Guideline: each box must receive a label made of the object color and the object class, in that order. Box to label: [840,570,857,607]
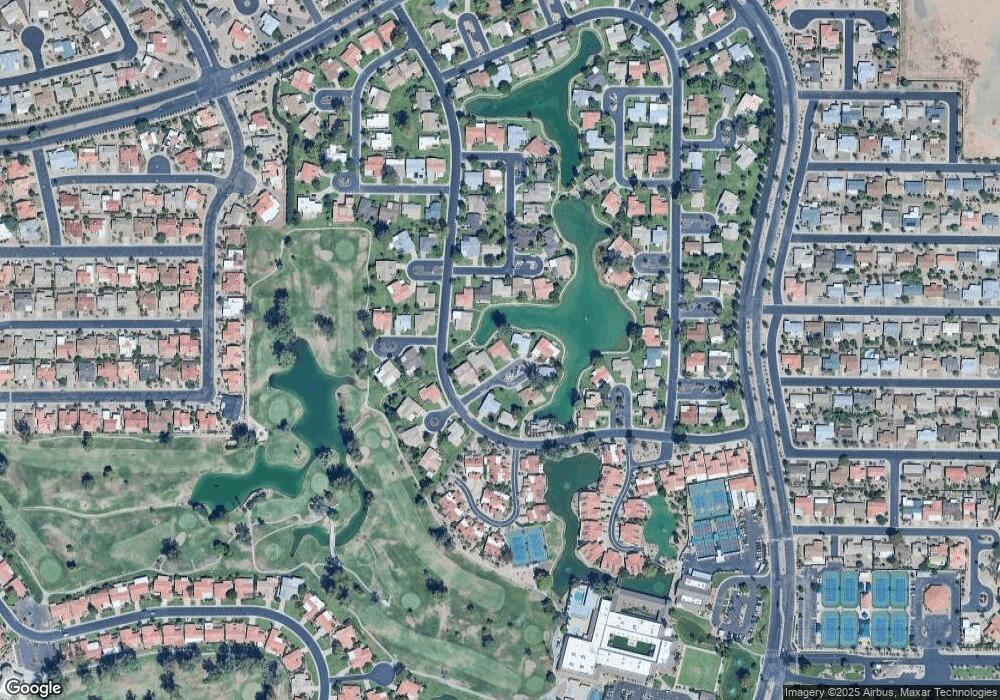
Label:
blue tennis court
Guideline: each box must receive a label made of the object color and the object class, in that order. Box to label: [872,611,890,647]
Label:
blue tennis court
